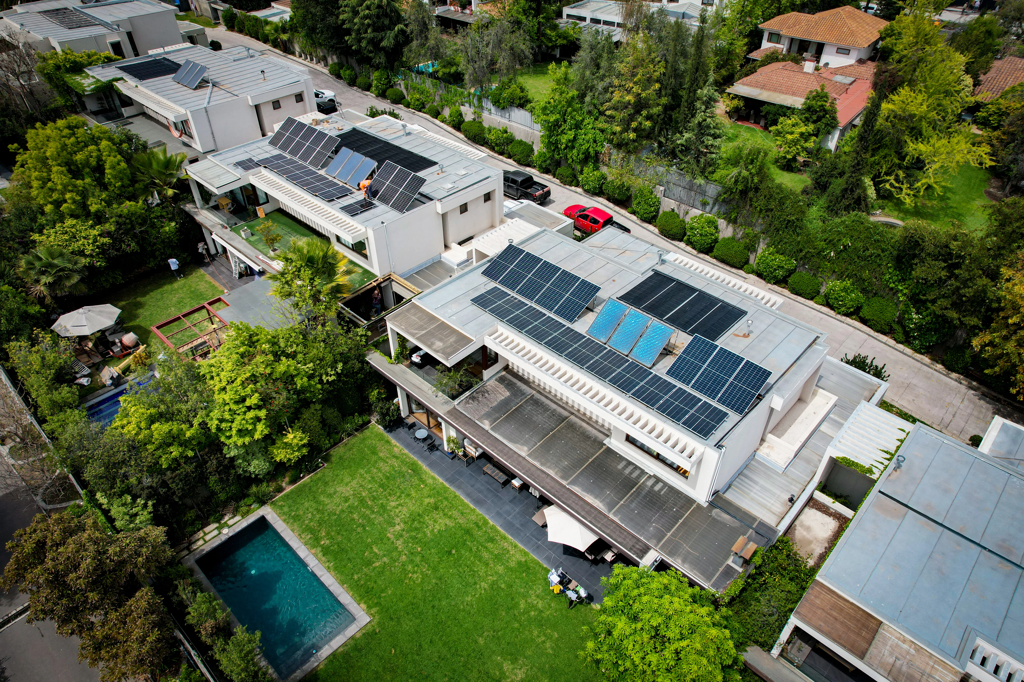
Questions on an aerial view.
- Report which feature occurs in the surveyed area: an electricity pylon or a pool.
pool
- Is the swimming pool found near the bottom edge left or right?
left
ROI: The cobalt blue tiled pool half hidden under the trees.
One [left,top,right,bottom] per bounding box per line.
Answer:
[64,360,216,485]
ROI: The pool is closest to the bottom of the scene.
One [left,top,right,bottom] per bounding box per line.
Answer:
[180,504,372,682]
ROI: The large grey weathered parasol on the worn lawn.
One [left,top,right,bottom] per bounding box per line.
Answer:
[52,300,122,355]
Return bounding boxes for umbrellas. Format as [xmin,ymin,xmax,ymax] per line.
[531,493,543,514]
[52,300,122,355]
[538,507,595,559]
